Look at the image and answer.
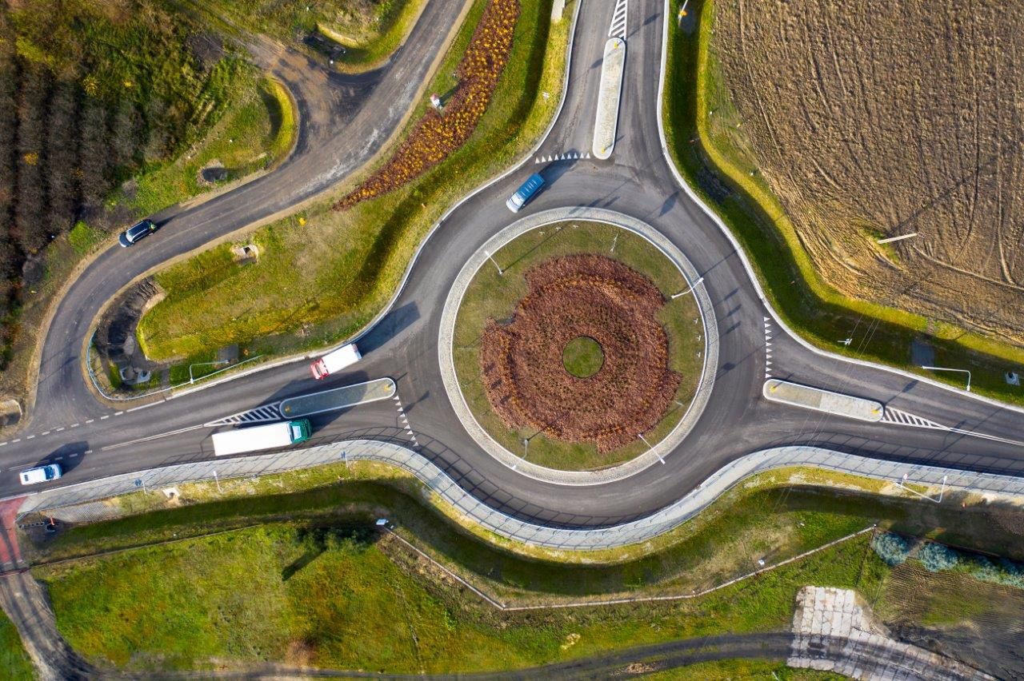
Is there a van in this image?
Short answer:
Yes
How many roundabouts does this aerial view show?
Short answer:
1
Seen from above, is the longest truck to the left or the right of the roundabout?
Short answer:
to the left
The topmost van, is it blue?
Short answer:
Yes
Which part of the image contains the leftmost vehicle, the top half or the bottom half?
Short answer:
bottom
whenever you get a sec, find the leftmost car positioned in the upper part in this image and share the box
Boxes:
[119,216,159,249]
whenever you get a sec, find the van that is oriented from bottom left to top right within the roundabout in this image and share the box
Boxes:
[506,171,546,214]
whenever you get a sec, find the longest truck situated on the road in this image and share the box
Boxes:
[212,415,321,457]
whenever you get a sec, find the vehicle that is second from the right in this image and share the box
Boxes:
[310,342,366,382]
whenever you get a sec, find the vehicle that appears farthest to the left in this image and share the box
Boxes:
[16,462,65,486]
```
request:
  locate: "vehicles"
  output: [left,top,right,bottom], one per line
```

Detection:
[310,342,366,382]
[212,415,321,457]
[506,171,546,214]
[119,216,159,249]
[16,462,65,486]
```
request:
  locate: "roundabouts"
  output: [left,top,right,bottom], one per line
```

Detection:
[369,135,790,531]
